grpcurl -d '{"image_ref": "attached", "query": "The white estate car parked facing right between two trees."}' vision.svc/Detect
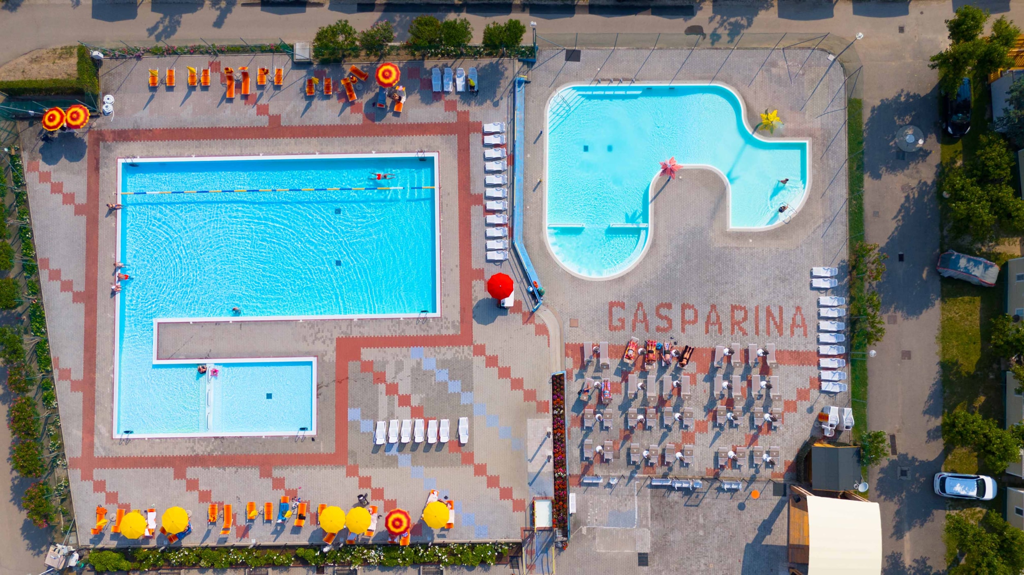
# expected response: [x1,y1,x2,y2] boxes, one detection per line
[931,471,995,502]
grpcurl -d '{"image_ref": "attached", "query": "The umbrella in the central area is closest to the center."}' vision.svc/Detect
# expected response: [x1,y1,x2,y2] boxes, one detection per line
[486,273,514,299]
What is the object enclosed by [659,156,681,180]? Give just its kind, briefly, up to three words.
fountain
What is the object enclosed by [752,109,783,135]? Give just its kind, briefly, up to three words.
fountain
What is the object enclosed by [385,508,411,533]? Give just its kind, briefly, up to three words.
umbrella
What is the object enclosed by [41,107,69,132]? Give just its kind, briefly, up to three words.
umbrella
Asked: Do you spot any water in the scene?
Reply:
Yes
